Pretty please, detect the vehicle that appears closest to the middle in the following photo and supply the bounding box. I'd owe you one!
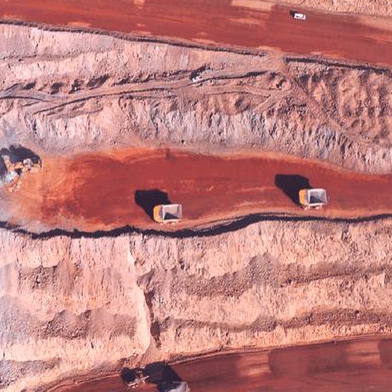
[151,205,180,224]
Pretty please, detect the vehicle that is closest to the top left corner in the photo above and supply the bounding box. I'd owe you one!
[3,157,40,178]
